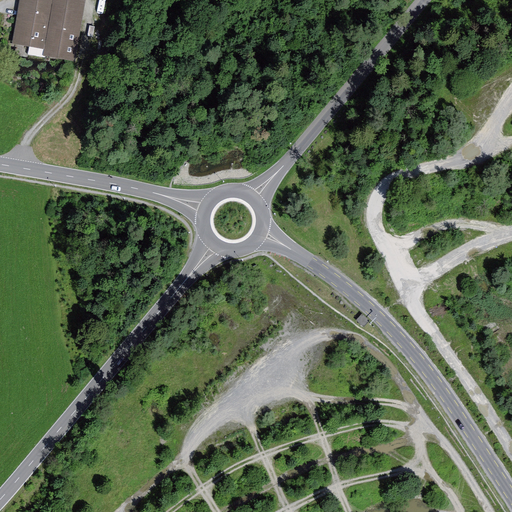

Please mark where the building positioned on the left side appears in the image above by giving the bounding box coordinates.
[13,0,84,60]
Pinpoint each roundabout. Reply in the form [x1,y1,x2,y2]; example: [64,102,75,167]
[196,182,270,258]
